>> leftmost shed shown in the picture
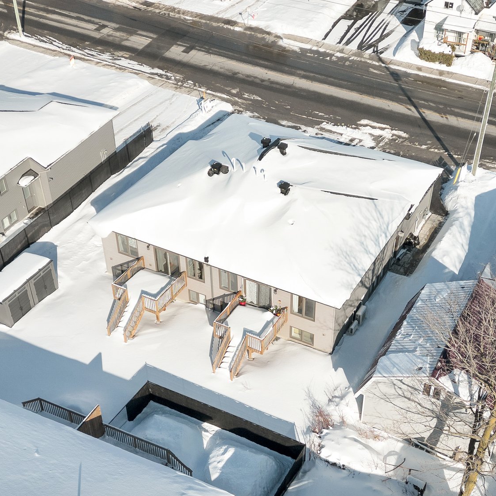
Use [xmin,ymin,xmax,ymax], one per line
[0,256,53,327]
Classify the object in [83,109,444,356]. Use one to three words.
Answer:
house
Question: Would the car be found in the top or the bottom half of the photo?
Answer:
top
